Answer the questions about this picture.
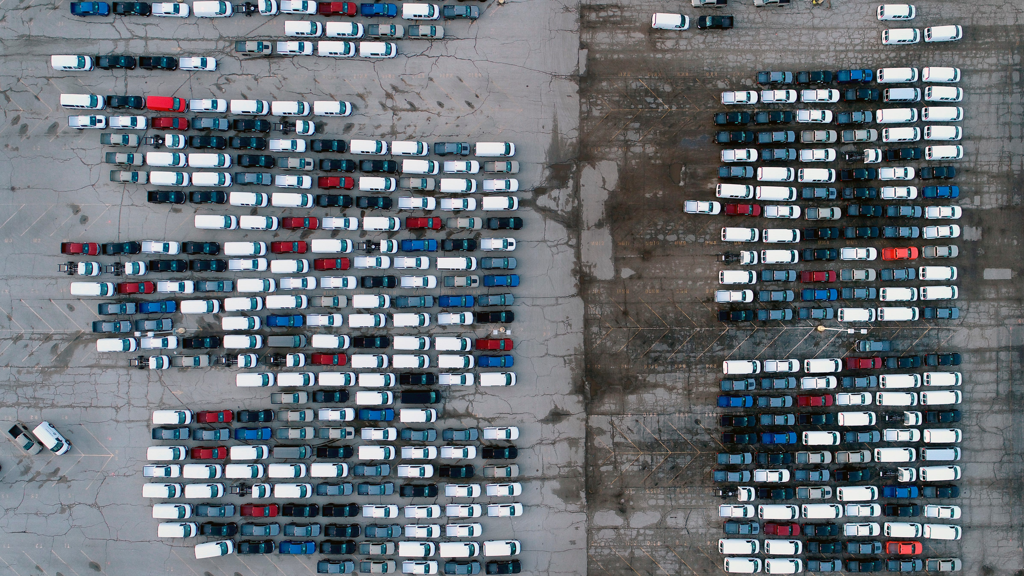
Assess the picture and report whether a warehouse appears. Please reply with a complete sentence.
No, there is no warehouse in the image.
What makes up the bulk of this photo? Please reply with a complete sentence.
For the most part, this view shows paved ground.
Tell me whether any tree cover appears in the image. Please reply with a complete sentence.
No, tree cover can't be seen anywhere here.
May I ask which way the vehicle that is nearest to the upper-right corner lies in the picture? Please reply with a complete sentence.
I'd say the vehicle that is nearest to the upper-right corner is aligned from side to side in the picture.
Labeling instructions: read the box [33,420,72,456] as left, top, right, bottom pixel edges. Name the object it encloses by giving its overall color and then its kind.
white van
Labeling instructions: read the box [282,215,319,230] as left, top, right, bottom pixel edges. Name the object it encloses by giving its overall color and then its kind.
red vehicle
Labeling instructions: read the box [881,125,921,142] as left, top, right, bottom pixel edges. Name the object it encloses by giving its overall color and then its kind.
white vehicle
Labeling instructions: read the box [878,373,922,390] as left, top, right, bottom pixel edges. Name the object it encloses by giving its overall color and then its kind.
white vehicle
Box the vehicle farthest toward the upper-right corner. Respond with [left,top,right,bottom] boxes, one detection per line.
[922,23,963,43]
